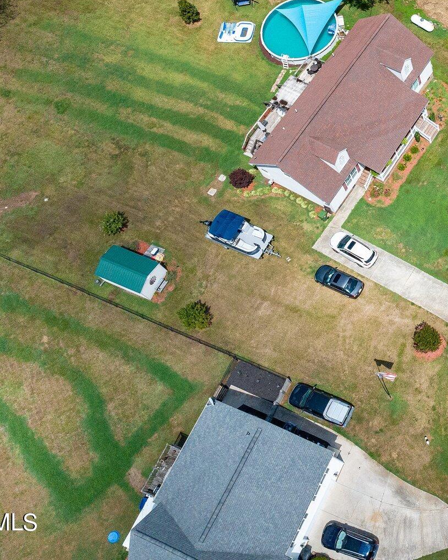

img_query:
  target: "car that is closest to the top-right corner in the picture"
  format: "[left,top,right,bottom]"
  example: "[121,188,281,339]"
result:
[330,233,379,270]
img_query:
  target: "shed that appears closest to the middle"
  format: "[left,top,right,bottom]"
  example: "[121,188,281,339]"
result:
[94,244,167,299]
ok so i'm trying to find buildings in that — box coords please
[240,12,441,212]
[122,399,349,560]
[94,244,167,299]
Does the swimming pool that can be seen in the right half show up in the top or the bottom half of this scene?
top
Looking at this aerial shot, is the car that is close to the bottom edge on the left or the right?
right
